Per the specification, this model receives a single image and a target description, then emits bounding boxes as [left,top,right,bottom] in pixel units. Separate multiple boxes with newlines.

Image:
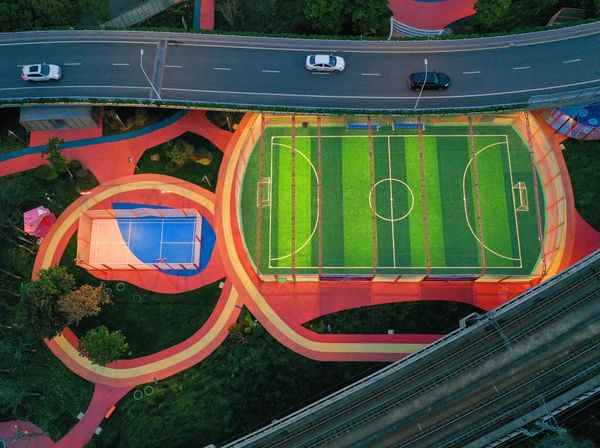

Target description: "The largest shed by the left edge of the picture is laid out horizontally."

[20,107,98,131]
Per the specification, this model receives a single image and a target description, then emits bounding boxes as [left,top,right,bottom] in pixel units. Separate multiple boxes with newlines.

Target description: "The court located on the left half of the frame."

[89,203,212,276]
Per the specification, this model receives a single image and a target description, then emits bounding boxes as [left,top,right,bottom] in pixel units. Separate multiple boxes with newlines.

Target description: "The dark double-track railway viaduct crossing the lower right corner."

[220,247,600,448]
